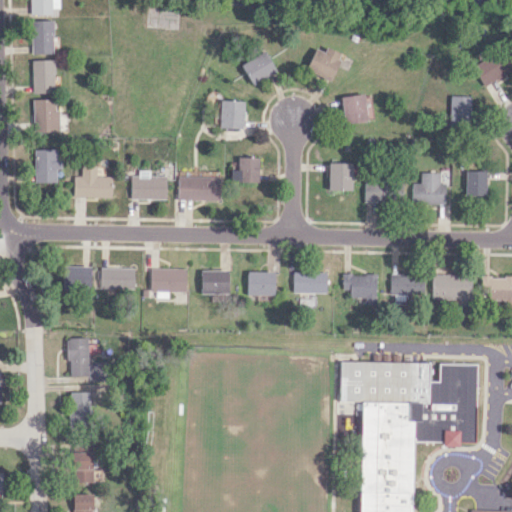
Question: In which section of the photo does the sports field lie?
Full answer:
The sports field is located in the bottom region of the scene.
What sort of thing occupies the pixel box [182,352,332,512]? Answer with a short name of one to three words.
sports field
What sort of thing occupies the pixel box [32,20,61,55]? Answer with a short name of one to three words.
house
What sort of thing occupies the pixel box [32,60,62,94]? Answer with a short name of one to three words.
house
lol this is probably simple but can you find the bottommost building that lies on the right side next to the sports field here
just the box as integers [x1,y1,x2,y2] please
[341,362,479,512]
